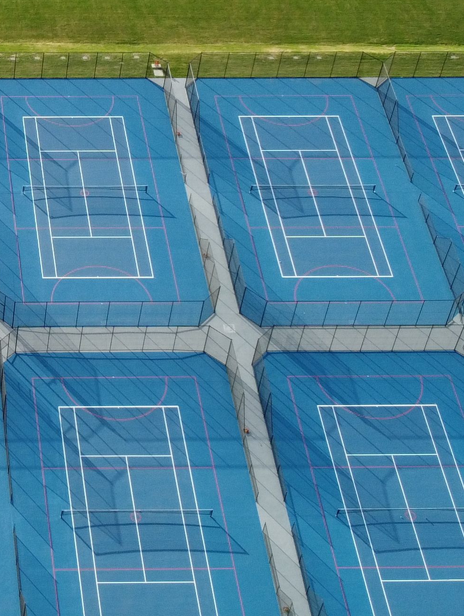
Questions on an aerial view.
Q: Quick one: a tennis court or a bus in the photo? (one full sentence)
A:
Of the two, only a tennis court appears.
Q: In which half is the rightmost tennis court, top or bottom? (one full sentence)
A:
The rightmost tennis court is in the top half of the image.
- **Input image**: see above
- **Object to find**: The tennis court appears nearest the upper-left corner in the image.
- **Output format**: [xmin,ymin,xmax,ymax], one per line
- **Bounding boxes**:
[0,78,212,326]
